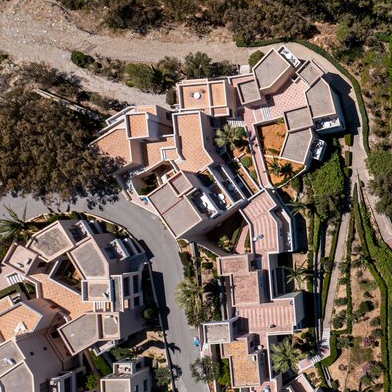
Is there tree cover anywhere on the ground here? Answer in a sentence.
Yes, there is tree cover in the image.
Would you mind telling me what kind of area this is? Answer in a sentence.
The picture captures a residential area.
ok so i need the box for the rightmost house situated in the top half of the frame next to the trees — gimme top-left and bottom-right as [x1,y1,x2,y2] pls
[228,45,344,166]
